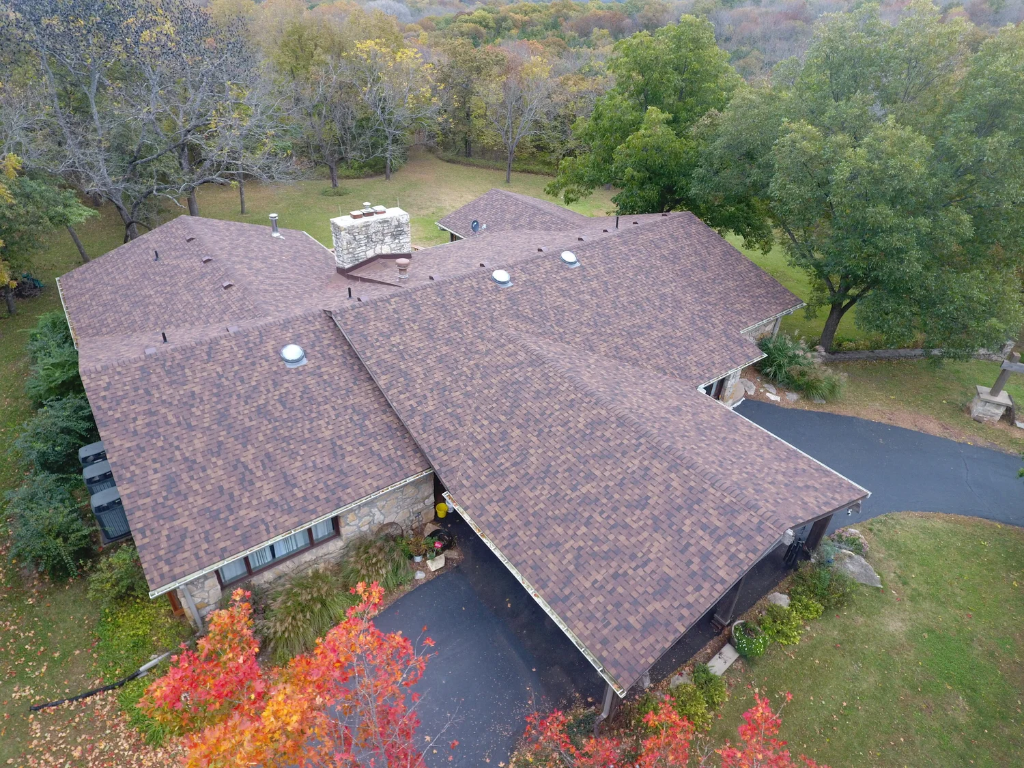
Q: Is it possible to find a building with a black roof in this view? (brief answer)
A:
No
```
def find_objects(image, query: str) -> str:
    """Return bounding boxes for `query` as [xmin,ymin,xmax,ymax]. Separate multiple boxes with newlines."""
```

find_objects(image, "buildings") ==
[55,185,874,763]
